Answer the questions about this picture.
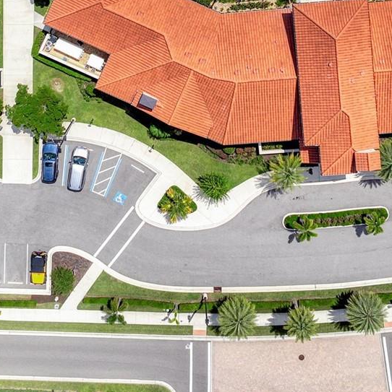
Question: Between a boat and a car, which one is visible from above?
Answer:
car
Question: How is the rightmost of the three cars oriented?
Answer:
from top to bottom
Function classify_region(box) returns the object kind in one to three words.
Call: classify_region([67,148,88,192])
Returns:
car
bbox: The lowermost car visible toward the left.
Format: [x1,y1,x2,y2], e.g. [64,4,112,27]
[28,253,46,288]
